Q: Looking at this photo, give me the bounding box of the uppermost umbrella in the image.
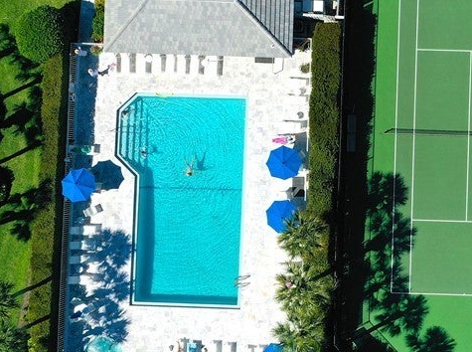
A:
[267,144,301,179]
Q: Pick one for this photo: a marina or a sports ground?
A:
sports ground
